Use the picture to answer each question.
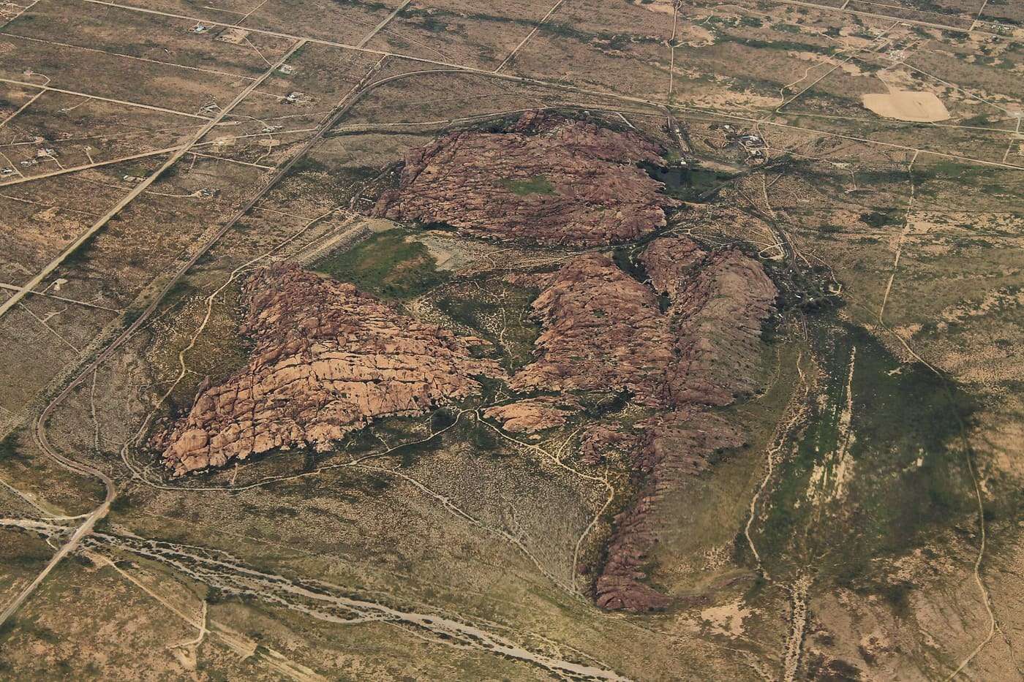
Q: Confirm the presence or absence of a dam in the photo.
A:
Yes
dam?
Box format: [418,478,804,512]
[289,215,377,268]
